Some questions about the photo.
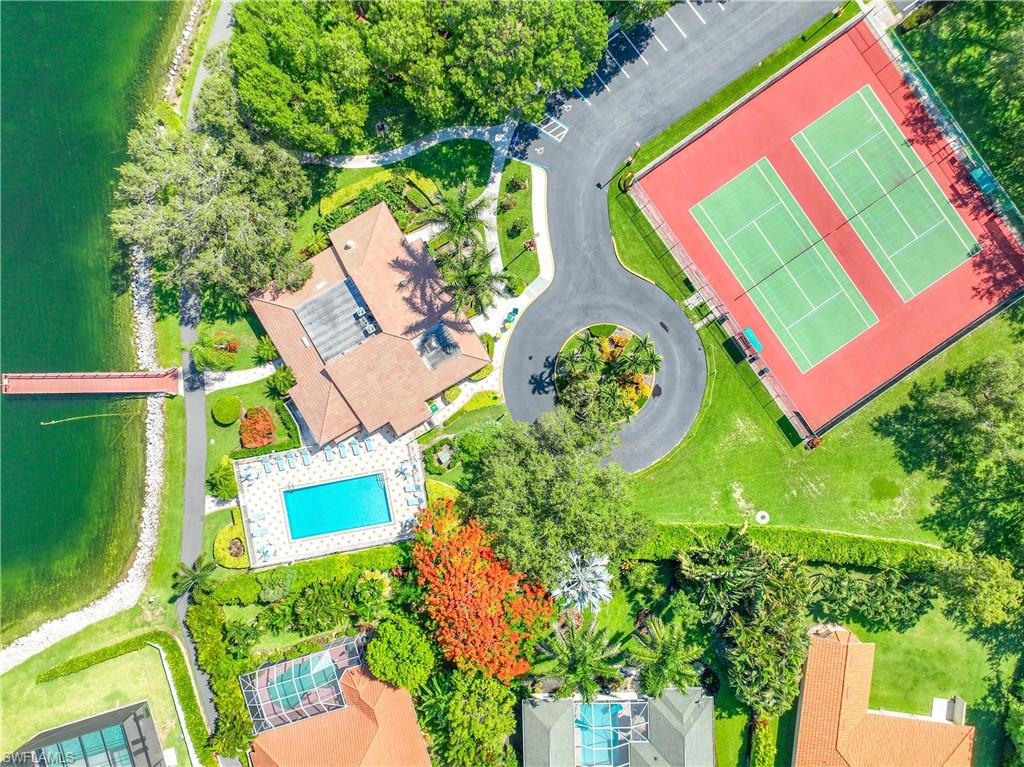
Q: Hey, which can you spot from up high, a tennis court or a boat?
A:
tennis court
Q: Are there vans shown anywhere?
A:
No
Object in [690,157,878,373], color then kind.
green tennis court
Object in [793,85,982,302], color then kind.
green tennis court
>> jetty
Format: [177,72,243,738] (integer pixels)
[1,366,178,397]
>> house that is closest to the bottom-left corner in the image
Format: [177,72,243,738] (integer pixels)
[239,634,432,767]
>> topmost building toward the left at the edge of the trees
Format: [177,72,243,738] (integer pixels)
[248,203,491,446]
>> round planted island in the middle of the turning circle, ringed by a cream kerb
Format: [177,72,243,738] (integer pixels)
[554,324,654,419]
